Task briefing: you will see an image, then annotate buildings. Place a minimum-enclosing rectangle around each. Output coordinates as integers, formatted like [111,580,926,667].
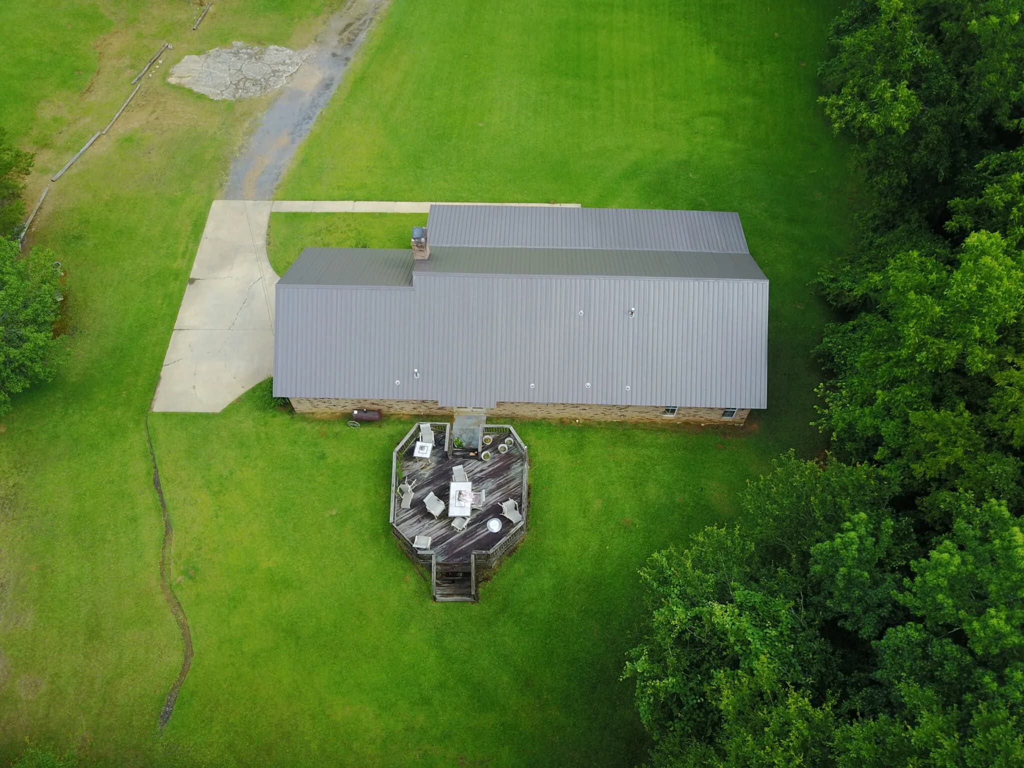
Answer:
[272,205,769,425]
